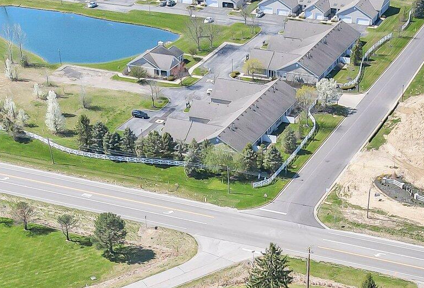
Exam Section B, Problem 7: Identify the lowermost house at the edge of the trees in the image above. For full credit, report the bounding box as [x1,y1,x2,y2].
[149,77,297,161]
